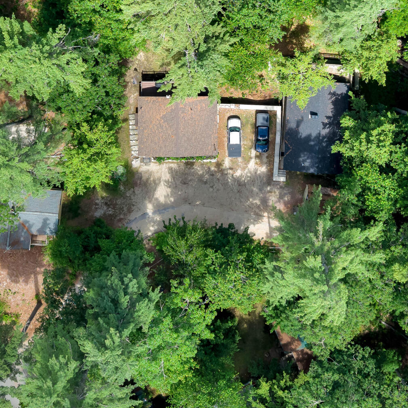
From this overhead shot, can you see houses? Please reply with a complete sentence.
Yes, there is a house in the image.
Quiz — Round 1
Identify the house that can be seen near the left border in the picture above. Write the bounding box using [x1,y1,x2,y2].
[0,188,64,257]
